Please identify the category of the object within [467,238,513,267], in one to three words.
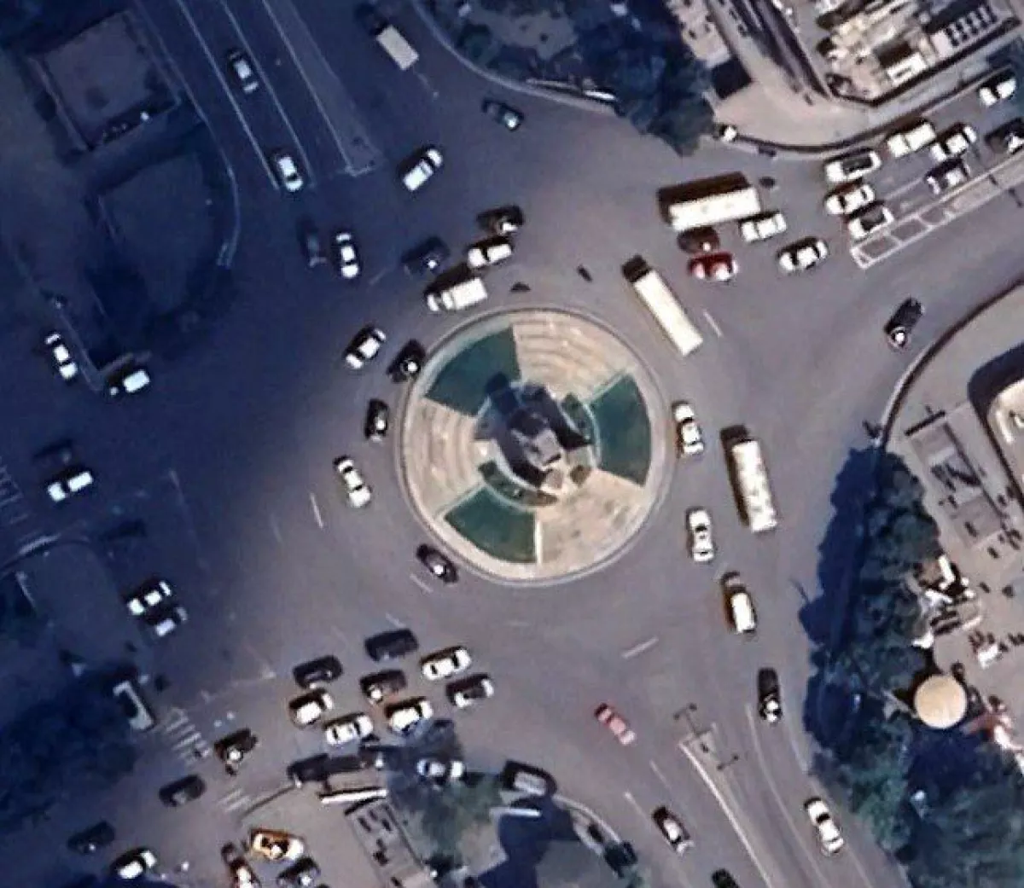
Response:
van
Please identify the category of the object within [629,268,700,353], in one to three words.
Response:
bus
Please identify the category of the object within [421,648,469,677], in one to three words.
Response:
car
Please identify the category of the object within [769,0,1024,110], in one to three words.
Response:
building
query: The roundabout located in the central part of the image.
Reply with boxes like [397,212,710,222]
[399,305,670,587]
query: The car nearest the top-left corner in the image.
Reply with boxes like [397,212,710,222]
[227,50,258,91]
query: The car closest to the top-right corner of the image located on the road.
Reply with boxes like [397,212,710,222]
[977,71,1020,102]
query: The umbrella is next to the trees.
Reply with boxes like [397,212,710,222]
[914,674,965,726]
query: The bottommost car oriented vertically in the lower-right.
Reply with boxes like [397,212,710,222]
[756,669,783,721]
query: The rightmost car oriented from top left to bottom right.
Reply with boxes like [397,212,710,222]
[803,800,844,851]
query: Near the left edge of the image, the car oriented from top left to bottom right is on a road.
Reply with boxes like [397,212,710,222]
[43,333,78,379]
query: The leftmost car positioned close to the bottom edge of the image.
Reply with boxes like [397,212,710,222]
[67,821,116,854]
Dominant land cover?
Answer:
paved ground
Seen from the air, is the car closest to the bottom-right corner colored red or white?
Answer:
white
